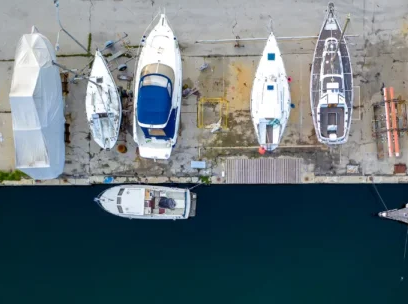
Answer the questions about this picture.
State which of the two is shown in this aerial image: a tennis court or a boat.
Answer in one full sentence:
The one in the frame is a boat.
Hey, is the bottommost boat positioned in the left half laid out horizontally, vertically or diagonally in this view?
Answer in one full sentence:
What the image shows is the bottommost boat positioned in the left half lying horizontally.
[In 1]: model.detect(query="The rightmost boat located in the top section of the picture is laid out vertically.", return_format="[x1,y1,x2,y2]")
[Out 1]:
[310,0,352,146]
